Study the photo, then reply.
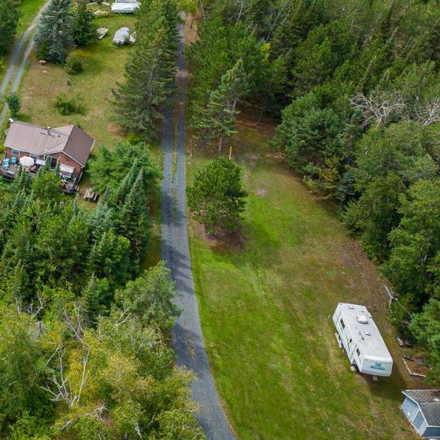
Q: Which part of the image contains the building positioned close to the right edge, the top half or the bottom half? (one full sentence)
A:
Seen from above, the building positioned close to the right edge lies in the bottom half of the view.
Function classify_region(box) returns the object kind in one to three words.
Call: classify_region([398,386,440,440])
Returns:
building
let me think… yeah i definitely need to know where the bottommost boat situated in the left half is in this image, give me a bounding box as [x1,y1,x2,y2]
[115,27,133,49]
